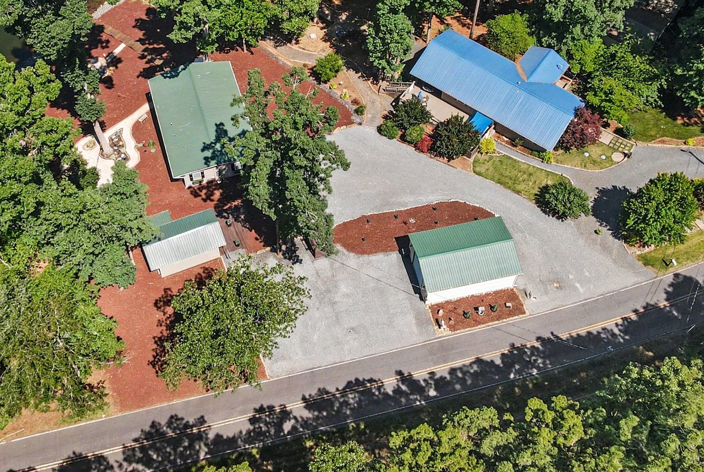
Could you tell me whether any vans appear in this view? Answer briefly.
No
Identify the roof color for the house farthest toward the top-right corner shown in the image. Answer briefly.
blue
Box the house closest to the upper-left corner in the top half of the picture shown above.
[148,56,259,188]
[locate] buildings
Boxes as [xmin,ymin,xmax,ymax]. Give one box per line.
[148,56,259,188]
[410,29,585,156]
[410,217,523,302]
[142,209,227,278]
